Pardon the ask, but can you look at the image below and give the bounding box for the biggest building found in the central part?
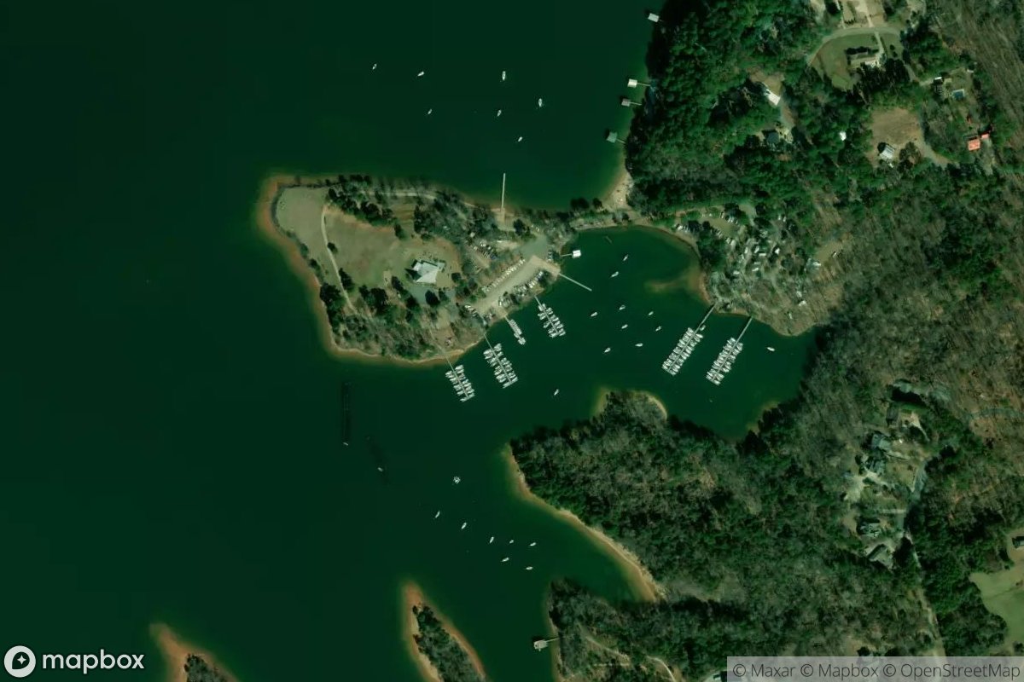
[417,262,438,282]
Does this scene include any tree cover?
Yes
